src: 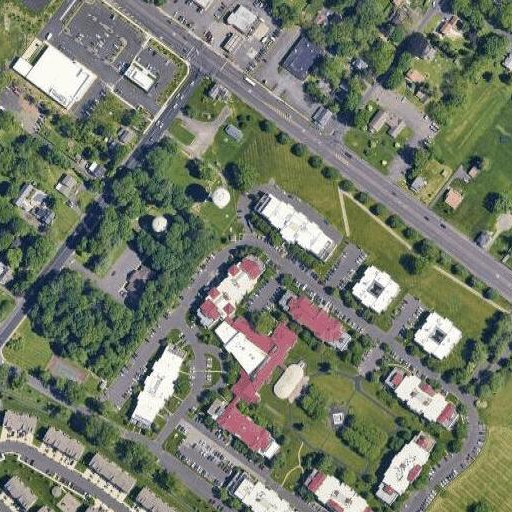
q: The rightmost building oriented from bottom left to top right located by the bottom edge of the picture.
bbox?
[376,432,436,508]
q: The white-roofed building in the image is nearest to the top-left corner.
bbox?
[13,40,97,112]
